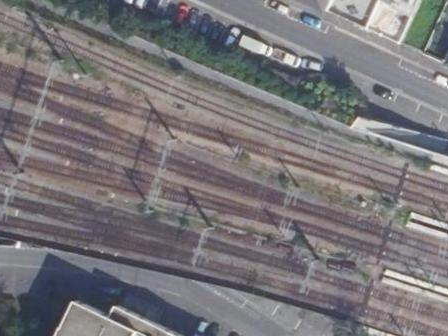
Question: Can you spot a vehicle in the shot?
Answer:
Yes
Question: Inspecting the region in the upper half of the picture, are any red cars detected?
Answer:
Yes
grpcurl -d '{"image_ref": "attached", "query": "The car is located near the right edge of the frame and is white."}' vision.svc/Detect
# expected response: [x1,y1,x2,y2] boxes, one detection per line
[433,73,448,86]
